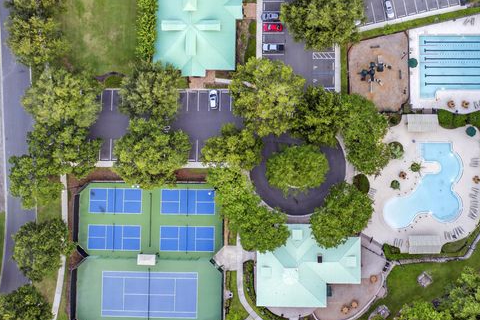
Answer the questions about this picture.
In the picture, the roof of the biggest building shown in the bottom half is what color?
white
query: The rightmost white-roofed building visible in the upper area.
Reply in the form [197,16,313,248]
[406,114,439,132]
